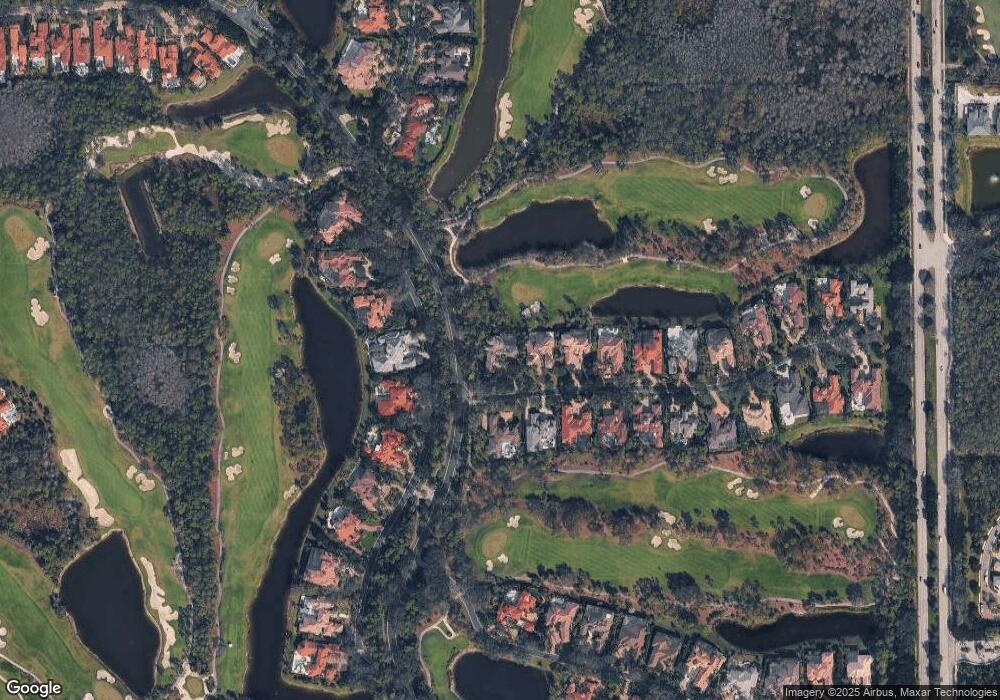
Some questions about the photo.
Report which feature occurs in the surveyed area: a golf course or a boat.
golf course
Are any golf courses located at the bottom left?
Yes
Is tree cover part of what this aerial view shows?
Yes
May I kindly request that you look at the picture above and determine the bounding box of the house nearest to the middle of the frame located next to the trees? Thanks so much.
[484,335,519,373]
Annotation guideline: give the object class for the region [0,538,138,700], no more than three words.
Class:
golf course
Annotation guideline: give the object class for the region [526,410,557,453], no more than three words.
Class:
house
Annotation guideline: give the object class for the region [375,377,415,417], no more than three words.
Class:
house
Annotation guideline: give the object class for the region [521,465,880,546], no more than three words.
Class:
golf course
